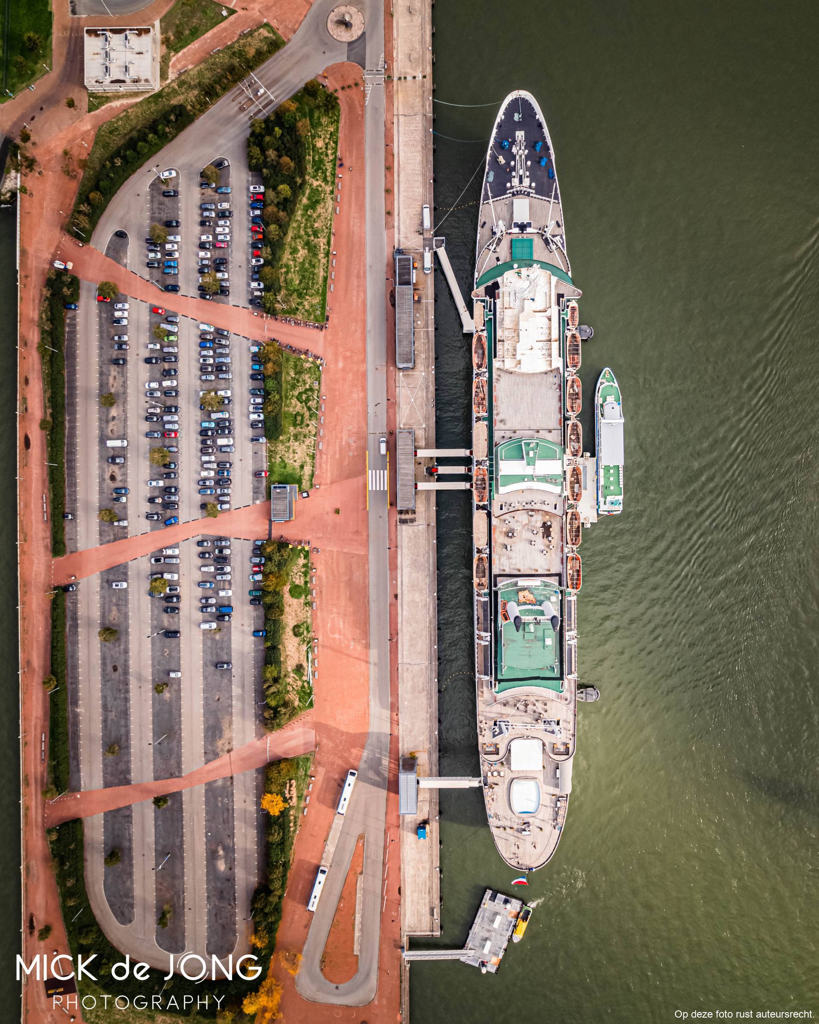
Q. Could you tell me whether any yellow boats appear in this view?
Yes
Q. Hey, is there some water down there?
Yes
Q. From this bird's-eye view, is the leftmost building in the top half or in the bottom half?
top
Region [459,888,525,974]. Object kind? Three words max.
pier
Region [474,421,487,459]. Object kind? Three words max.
boat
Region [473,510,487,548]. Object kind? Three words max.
boat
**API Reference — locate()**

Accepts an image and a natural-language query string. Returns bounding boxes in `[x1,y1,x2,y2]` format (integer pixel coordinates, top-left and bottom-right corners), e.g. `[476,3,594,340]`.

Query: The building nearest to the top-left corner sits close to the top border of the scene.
[84,27,156,92]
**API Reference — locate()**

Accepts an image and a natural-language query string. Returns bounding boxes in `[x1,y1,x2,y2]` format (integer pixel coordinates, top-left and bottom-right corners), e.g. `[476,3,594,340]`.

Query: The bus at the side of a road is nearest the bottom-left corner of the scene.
[308,863,328,911]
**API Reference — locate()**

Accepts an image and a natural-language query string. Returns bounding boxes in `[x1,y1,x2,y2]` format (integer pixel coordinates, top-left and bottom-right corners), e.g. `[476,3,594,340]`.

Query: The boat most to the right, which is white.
[594,367,625,517]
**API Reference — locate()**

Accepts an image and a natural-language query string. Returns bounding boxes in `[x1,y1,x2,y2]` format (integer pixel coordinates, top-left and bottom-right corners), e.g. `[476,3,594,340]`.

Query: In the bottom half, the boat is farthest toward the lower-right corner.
[515,905,532,941]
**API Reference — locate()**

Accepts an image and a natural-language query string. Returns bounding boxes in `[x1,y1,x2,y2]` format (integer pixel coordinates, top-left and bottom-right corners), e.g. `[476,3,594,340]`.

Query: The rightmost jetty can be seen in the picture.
[577,453,597,531]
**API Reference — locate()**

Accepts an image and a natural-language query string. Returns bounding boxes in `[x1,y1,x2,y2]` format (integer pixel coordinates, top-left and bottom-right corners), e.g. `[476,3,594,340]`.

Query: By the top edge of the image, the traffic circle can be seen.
[326,3,365,43]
